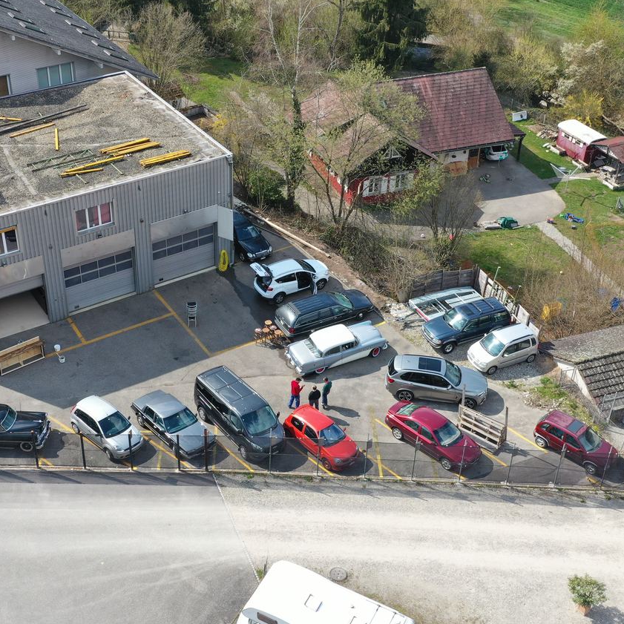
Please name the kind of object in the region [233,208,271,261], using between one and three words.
car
